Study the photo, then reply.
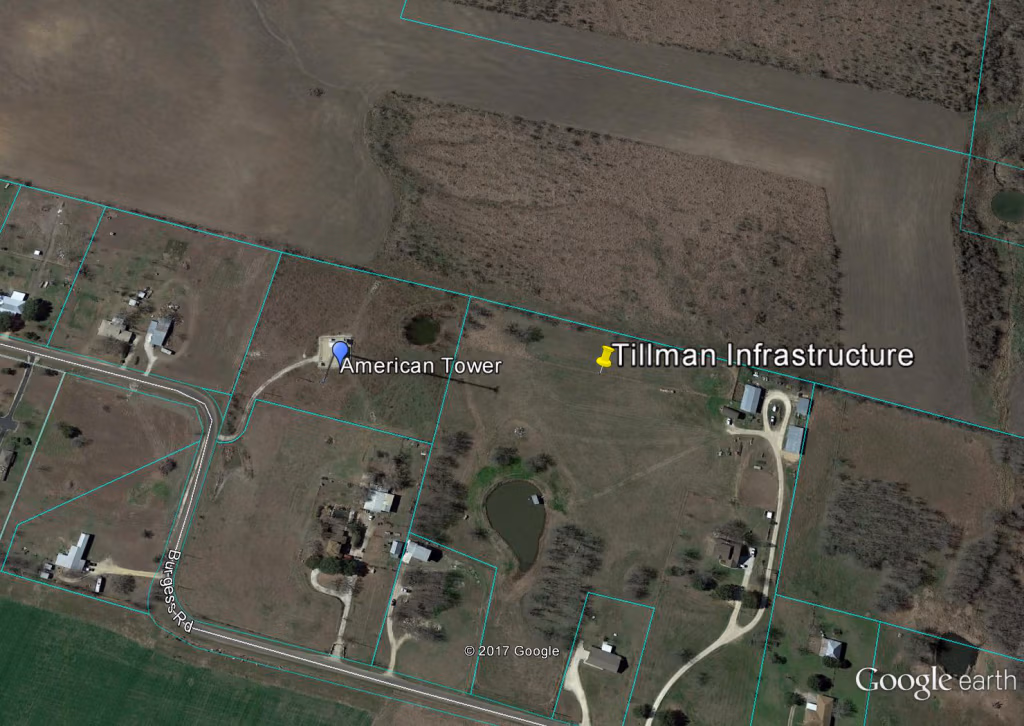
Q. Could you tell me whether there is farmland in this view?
Yes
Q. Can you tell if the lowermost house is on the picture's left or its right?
right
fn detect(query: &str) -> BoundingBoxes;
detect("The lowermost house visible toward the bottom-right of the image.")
[802,694,833,726]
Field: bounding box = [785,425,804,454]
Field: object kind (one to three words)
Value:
barn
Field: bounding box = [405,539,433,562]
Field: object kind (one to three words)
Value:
house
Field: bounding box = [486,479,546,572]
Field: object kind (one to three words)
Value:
pond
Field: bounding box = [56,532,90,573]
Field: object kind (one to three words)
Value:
house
